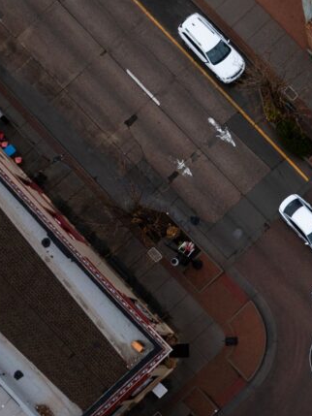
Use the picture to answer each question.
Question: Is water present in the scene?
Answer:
No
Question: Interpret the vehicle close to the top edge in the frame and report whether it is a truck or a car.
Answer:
car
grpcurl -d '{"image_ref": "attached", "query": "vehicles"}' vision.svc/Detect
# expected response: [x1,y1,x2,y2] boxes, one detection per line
[280,192,312,250]
[178,12,247,86]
